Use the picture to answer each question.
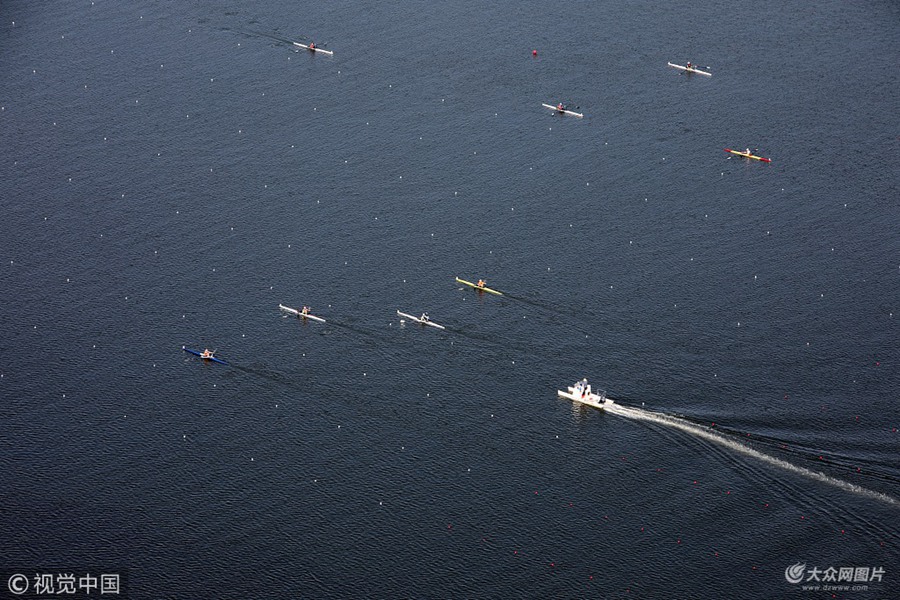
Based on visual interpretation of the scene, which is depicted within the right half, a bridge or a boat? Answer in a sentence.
The one visible within the right half is a boat.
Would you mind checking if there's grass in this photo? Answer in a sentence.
No, grass can't be seen anywhere here.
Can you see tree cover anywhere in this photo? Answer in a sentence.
No, tree cover can't be seen anywhere here.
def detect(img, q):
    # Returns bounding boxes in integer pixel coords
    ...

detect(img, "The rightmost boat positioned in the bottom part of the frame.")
[555,387,618,411]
